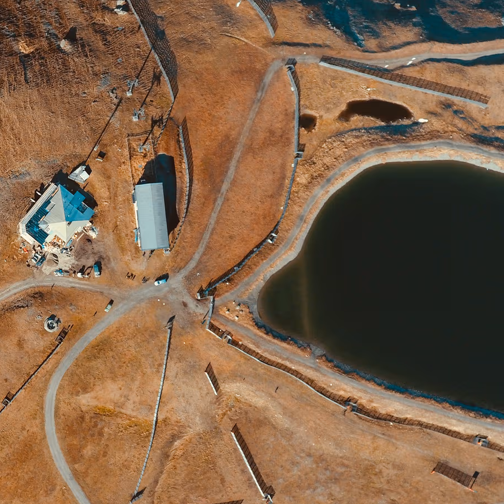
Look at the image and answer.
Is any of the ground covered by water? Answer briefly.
Yes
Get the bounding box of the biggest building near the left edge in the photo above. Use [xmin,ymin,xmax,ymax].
[19,183,94,247]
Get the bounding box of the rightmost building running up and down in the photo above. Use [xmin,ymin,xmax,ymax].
[130,180,170,253]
